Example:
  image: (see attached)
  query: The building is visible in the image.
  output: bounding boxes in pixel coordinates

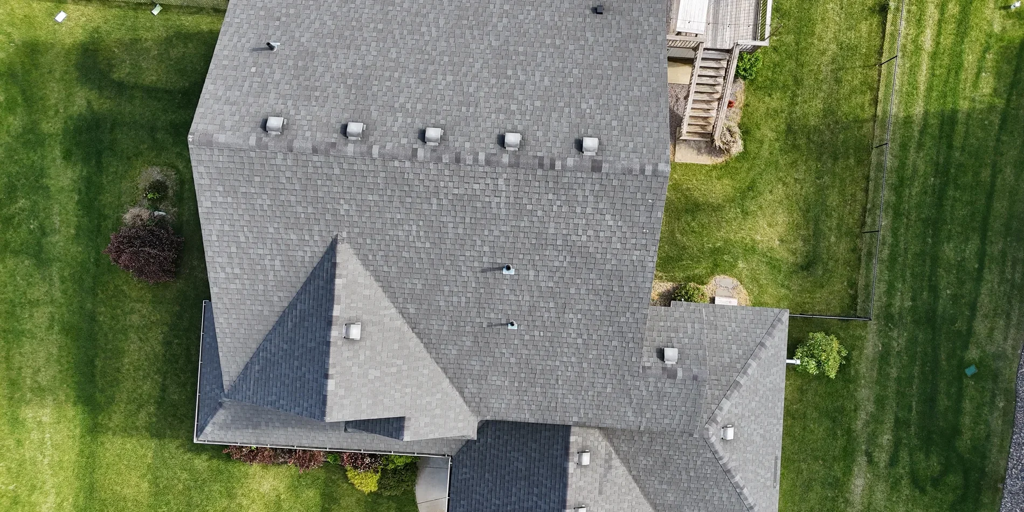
[188,0,799,512]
